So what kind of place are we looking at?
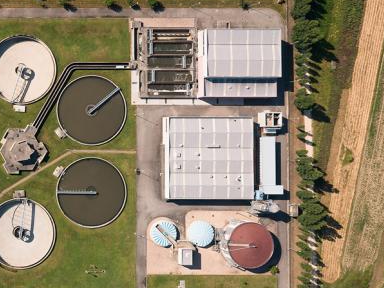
industrial area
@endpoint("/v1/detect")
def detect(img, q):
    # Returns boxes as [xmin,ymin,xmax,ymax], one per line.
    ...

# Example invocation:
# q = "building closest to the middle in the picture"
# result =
[160,117,254,199]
